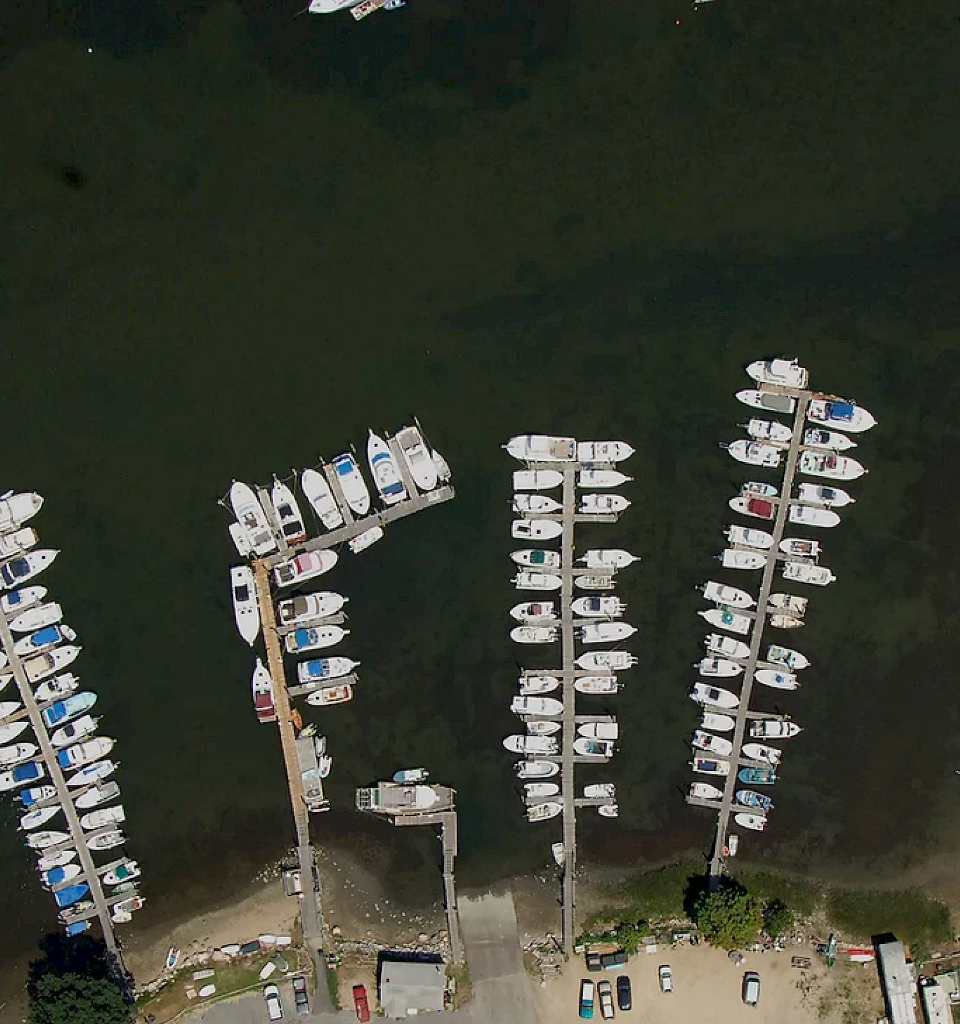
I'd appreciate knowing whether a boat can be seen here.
Yes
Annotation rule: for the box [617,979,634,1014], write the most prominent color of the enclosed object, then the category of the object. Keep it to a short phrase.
black car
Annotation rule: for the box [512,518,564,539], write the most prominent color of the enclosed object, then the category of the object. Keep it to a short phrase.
white boat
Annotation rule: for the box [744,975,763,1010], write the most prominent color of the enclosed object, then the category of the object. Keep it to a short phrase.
white vehicle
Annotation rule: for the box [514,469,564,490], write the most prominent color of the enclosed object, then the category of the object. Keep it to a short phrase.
white boat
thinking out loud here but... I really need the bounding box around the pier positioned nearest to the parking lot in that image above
[520,462,621,958]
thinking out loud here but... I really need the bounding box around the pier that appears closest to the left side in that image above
[0,552,141,989]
